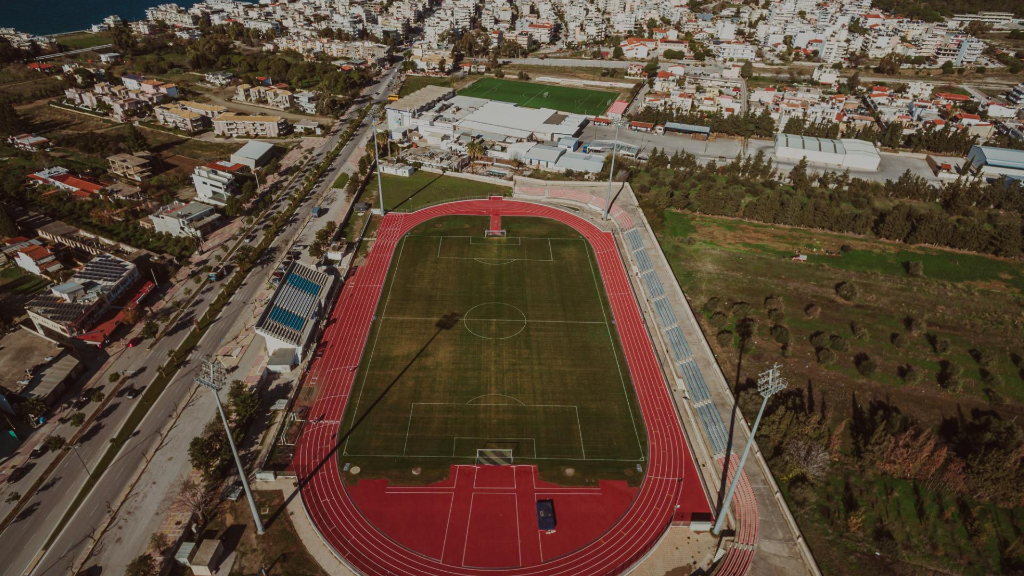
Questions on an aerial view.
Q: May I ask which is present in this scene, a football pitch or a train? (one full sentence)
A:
I can see a football pitch in this picture.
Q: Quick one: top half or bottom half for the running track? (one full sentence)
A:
It is in the bottom half that the running track appears.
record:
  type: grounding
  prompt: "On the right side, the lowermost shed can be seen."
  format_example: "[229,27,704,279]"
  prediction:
[689,515,713,529]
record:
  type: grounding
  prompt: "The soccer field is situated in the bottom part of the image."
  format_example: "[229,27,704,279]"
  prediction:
[338,215,648,489]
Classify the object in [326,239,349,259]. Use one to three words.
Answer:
shed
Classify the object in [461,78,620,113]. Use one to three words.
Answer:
sports field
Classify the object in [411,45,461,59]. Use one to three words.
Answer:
building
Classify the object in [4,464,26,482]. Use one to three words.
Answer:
car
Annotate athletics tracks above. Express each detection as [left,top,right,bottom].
[284,200,718,576]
